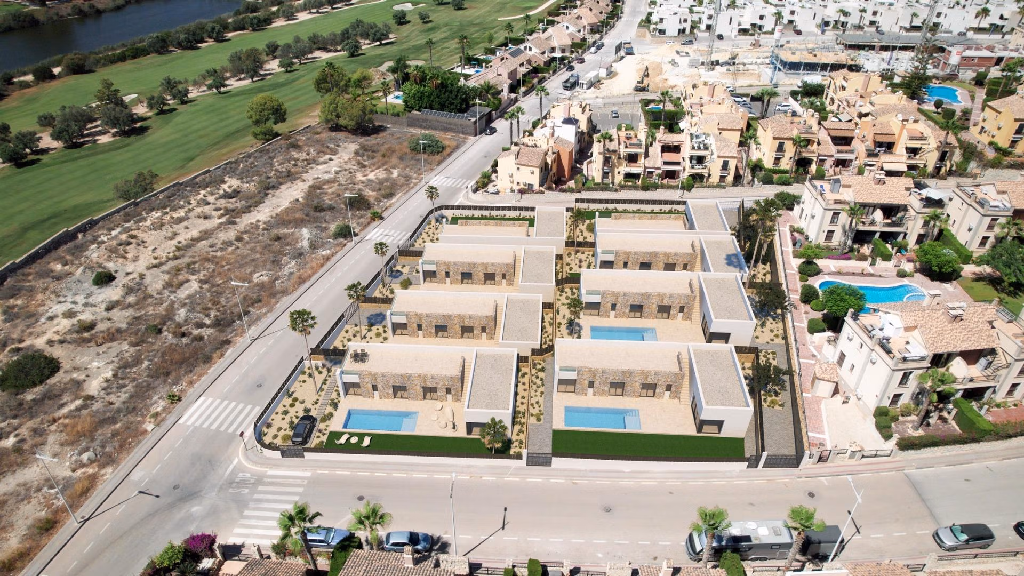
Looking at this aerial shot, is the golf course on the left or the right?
left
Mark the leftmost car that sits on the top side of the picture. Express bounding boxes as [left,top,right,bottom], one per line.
[481,121,498,134]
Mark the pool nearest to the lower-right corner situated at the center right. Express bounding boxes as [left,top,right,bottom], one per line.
[816,279,930,308]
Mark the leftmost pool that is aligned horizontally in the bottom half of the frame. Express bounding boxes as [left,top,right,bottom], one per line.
[341,409,420,432]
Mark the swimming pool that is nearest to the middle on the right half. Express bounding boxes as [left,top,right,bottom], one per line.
[589,327,661,342]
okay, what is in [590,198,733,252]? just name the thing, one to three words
house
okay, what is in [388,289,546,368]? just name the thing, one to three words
house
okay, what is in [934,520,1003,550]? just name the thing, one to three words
car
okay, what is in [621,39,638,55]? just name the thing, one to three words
vehicle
